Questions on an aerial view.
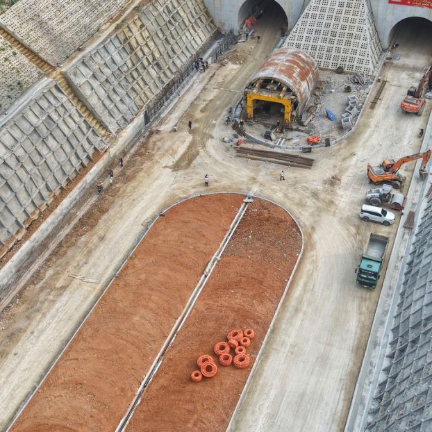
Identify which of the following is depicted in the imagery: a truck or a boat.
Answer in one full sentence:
Looking from above, you can make out a truck.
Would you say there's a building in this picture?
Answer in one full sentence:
No, I can see no building in this picture.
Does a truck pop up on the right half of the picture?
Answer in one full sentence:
Yes, the scene does show a truck on the right half of the picture.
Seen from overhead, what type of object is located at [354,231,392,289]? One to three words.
truck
